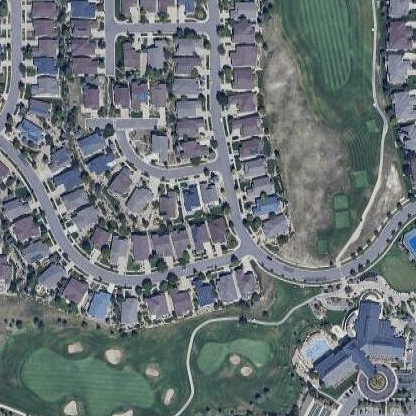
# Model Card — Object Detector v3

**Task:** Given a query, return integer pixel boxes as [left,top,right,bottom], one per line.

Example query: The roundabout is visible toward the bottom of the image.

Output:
[356,361,397,402]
